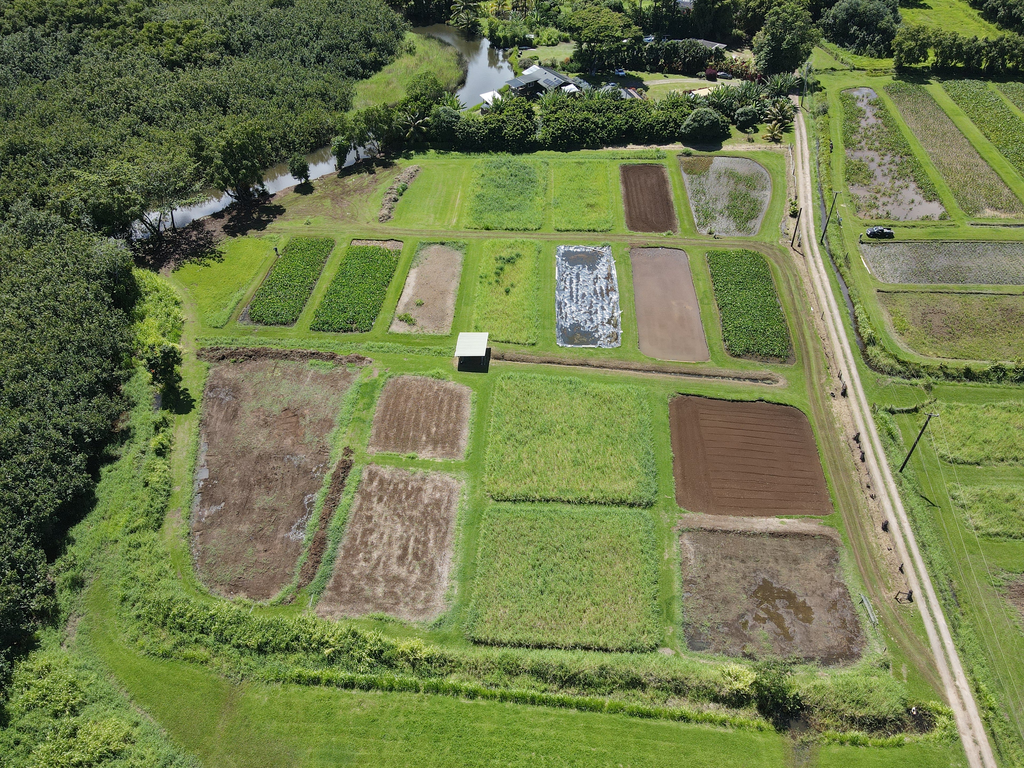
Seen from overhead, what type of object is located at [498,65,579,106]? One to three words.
house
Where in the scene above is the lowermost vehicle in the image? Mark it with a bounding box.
[865,226,899,238]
